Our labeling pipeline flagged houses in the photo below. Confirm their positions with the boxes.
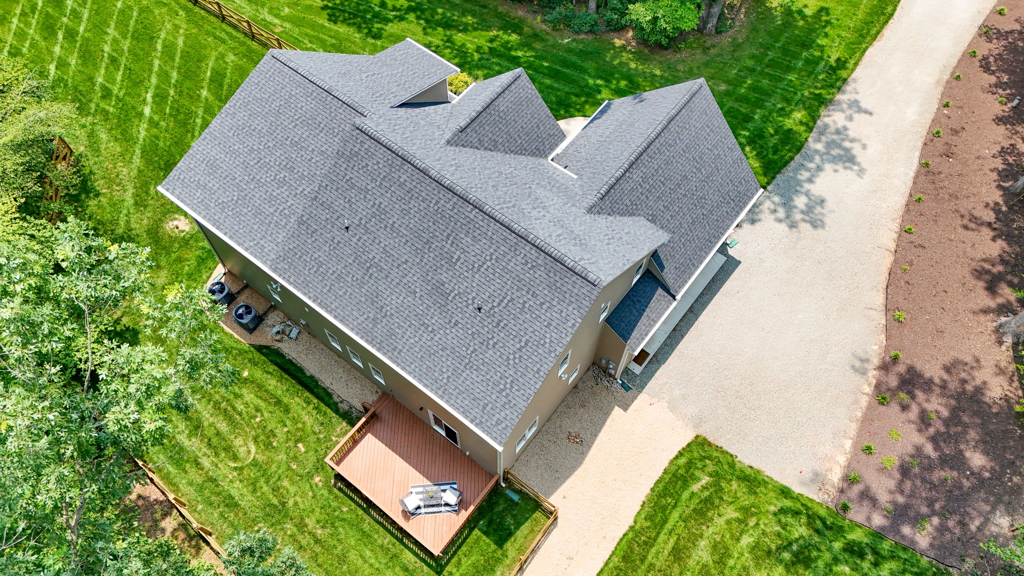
[158,38,765,494]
